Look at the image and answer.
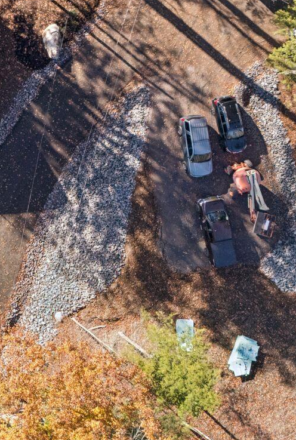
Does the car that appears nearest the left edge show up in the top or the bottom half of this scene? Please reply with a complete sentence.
You can find the car that appears nearest the left edge in the top half.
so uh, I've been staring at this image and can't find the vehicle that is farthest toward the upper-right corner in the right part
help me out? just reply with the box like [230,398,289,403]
[206,96,248,155]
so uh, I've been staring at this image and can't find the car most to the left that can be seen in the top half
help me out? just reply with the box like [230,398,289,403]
[174,114,214,178]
